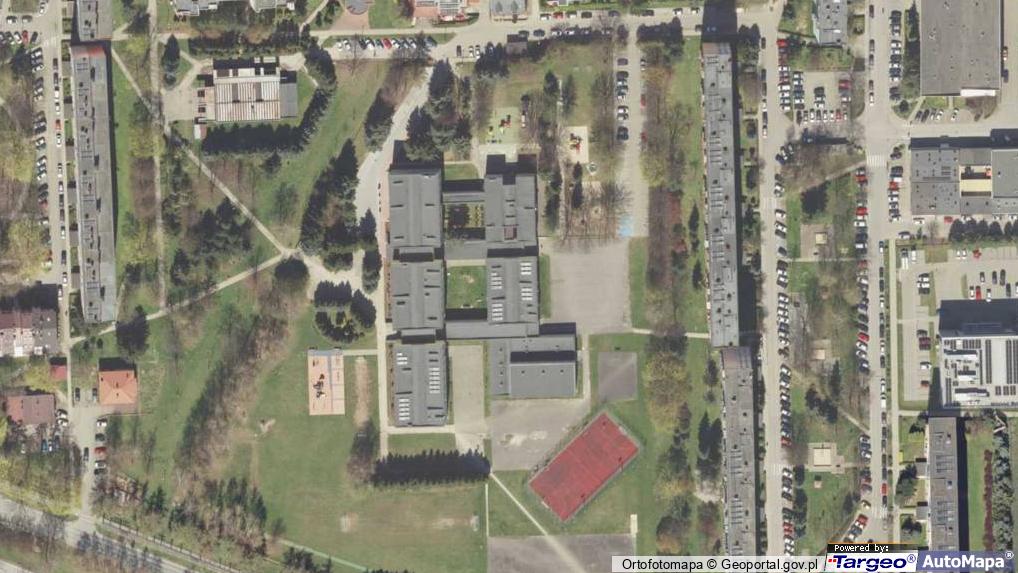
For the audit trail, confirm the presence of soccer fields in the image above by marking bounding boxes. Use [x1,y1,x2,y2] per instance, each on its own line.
[341,499,481,547]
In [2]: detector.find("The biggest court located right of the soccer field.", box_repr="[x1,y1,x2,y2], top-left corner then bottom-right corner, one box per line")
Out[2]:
[527,410,641,525]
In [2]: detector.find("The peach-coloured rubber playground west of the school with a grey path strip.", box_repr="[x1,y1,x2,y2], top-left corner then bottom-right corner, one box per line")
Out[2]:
[308,350,345,415]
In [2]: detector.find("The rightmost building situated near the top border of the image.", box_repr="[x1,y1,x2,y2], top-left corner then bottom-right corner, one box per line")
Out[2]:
[921,0,1000,96]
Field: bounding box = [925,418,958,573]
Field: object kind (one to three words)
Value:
building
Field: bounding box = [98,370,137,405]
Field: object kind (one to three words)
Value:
house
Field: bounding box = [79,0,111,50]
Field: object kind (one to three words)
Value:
building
